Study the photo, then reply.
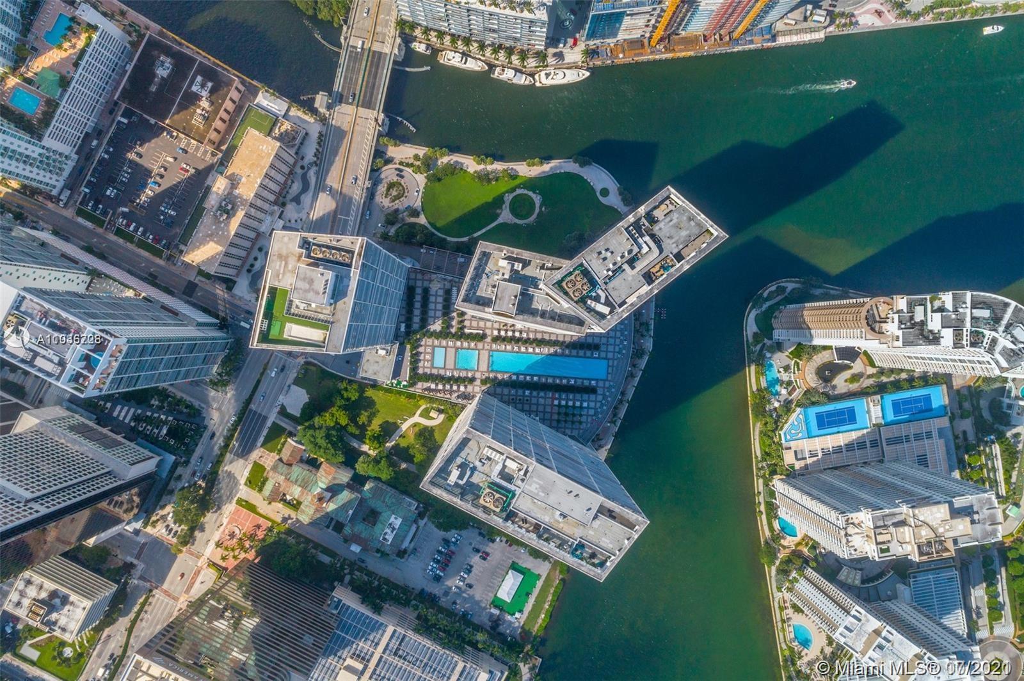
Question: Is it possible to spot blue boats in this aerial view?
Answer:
No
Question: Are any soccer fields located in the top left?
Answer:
Yes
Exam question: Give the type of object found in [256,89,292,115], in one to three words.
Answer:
building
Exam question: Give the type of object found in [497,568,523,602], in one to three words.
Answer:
tent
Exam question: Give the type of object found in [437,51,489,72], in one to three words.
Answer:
boat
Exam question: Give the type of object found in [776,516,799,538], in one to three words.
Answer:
swimming pool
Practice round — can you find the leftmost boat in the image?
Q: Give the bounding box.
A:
[411,42,432,54]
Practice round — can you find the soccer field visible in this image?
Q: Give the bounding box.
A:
[211,103,277,171]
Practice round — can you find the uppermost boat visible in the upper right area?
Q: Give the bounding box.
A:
[979,24,1004,36]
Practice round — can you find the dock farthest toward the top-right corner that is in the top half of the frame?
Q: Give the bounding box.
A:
[775,27,826,49]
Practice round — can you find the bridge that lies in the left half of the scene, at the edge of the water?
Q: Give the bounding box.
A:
[301,0,407,237]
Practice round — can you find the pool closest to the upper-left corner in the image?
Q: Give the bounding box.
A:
[42,11,72,47]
